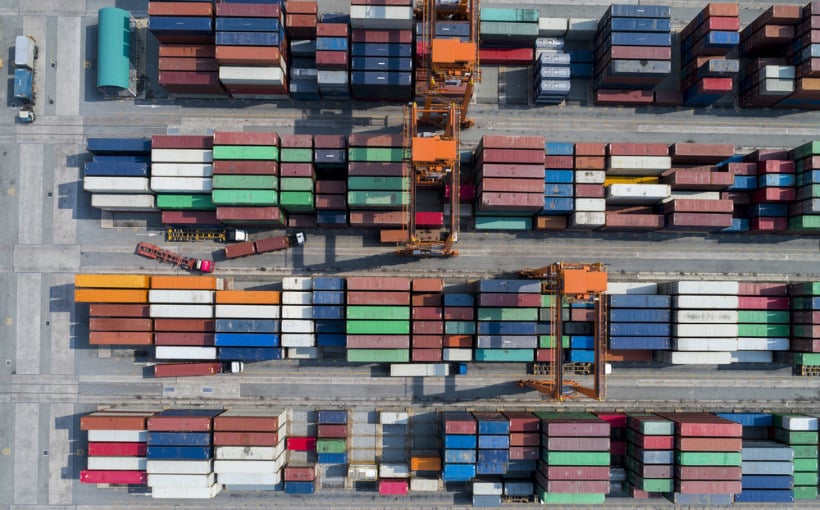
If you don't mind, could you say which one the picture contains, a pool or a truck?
truck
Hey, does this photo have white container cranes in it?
No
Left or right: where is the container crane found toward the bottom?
right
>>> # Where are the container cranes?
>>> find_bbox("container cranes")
[412,0,481,128]
[513,262,609,402]
[395,101,462,258]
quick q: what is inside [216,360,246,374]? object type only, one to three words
vehicle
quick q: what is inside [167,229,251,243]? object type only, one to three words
vehicle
